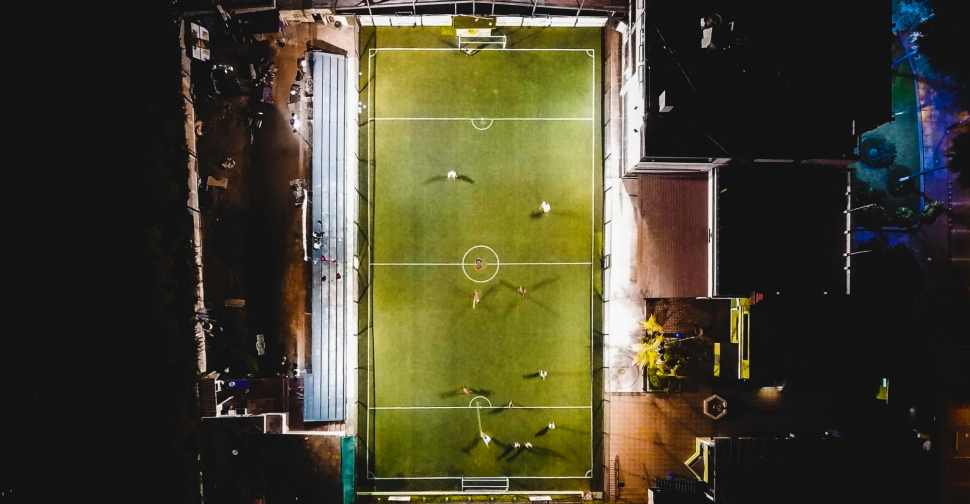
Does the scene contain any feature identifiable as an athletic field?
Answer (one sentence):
Yes, an athletic field is visible in the scene.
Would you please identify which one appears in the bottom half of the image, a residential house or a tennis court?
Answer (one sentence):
What appears in the bottom half of the image is a residential house.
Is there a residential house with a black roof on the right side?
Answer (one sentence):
Yes, a residential house with a black roof appears on the right side.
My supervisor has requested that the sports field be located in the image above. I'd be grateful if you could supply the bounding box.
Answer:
[359,27,603,492]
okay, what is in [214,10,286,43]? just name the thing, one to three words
shed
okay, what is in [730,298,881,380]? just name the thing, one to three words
house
